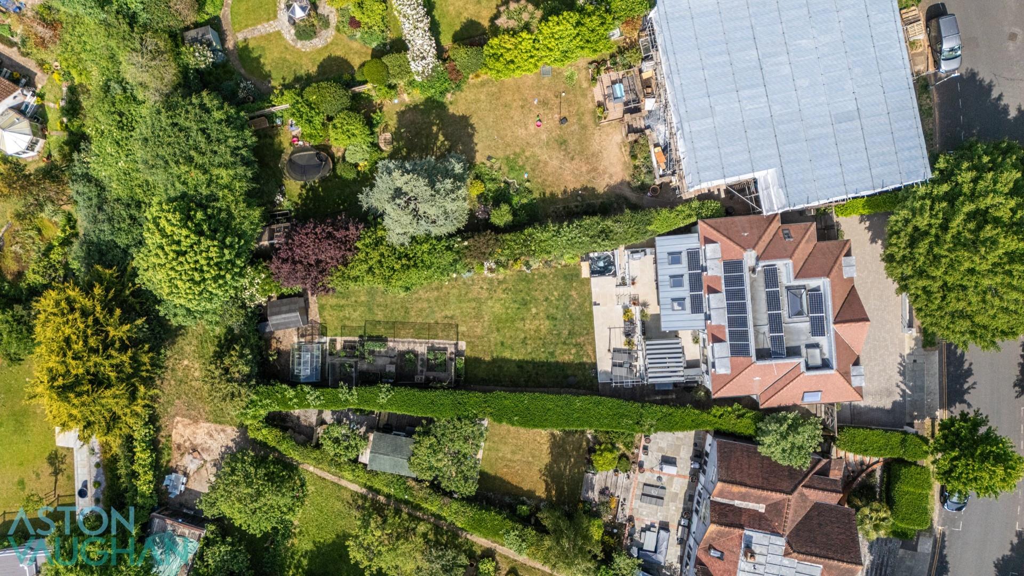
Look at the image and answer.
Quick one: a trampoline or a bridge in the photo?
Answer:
trampoline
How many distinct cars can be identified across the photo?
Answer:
2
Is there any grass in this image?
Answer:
Yes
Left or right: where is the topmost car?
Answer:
right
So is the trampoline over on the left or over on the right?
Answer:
left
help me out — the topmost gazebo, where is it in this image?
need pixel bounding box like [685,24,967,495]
[285,0,315,25]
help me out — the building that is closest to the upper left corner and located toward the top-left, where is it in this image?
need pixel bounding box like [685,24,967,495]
[0,75,53,116]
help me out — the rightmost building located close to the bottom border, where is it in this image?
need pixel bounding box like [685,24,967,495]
[674,430,864,576]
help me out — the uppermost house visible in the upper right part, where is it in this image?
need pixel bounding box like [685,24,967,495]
[652,0,931,217]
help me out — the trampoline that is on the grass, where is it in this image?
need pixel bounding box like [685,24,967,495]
[280,146,333,182]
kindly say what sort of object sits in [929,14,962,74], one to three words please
car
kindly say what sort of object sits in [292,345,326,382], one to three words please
greenhouse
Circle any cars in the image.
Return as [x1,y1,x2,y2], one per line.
[929,14,962,74]
[938,472,968,513]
